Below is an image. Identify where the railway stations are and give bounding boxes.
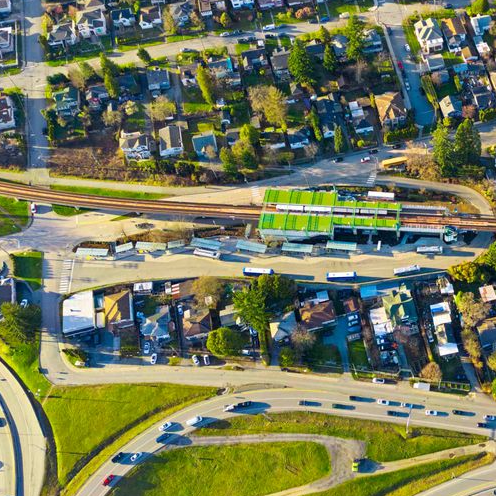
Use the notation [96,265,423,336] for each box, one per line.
[256,189,466,248]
